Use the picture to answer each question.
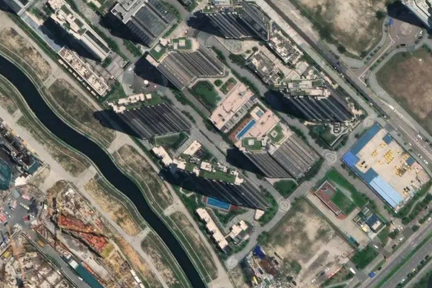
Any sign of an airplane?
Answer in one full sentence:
No, I can't see a single airplane in this photo.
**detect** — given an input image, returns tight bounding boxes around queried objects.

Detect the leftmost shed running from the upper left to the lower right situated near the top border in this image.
[18,12,64,56]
